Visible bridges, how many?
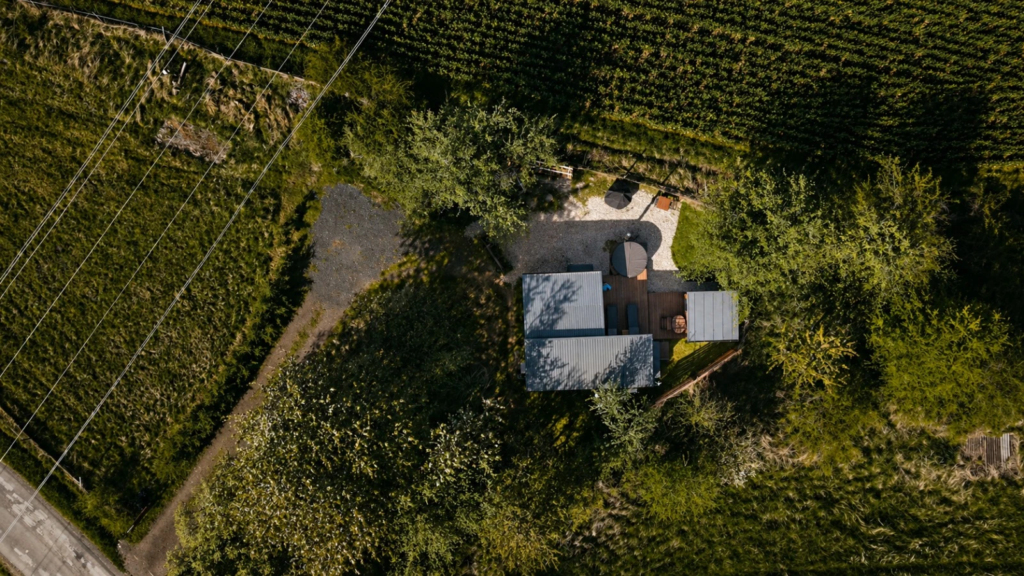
0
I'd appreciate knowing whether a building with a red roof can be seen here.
No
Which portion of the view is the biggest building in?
center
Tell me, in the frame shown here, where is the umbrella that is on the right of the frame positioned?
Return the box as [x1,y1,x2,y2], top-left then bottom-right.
[603,179,634,210]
